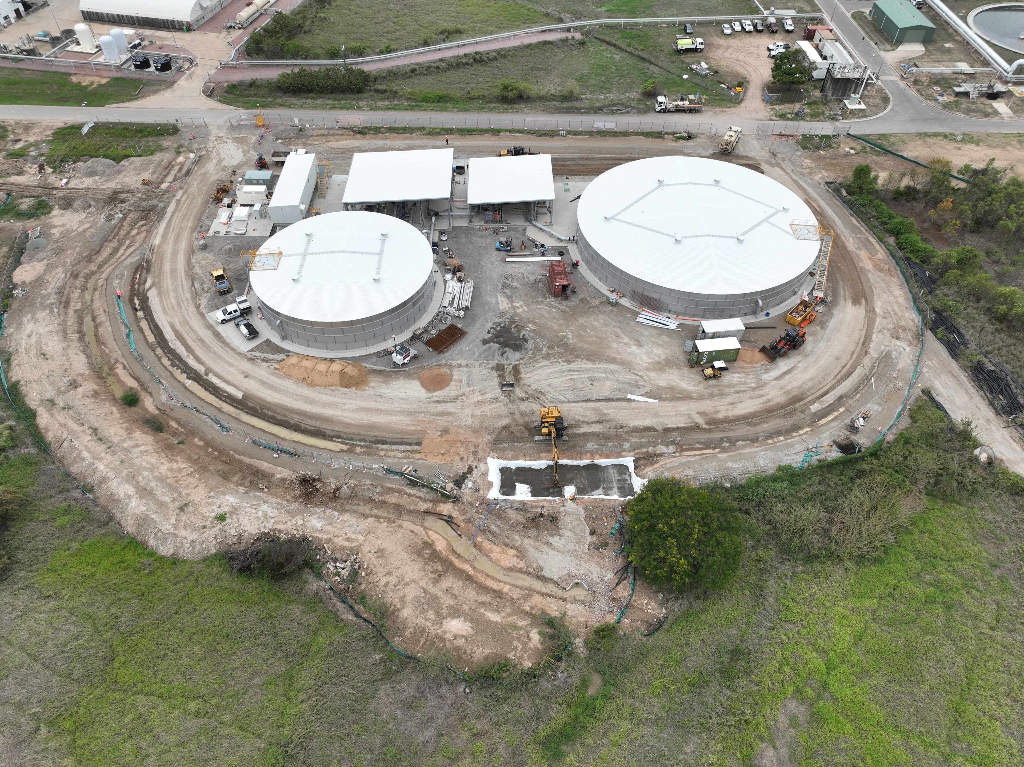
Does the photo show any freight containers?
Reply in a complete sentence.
Yes, I can see a freight container in this picture.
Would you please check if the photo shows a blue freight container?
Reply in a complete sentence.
No, there isn't any blue freight container down there.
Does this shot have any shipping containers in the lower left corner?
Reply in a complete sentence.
No, there is no shipping container in the lower left corner.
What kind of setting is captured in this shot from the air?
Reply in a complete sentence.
This image shows an industrial area.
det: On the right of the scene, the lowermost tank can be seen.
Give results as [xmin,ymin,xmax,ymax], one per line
[567,150,834,326]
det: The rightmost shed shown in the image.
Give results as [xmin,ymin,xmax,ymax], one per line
[867,0,937,46]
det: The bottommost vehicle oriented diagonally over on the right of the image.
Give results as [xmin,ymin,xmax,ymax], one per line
[764,327,811,361]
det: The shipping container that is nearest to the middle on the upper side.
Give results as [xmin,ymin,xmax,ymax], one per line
[549,261,574,301]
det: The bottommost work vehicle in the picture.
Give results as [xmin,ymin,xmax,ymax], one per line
[534,403,571,486]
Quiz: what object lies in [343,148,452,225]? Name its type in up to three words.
shed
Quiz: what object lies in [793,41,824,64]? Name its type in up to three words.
building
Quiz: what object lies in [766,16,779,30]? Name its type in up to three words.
vehicle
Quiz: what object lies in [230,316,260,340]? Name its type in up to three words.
truck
